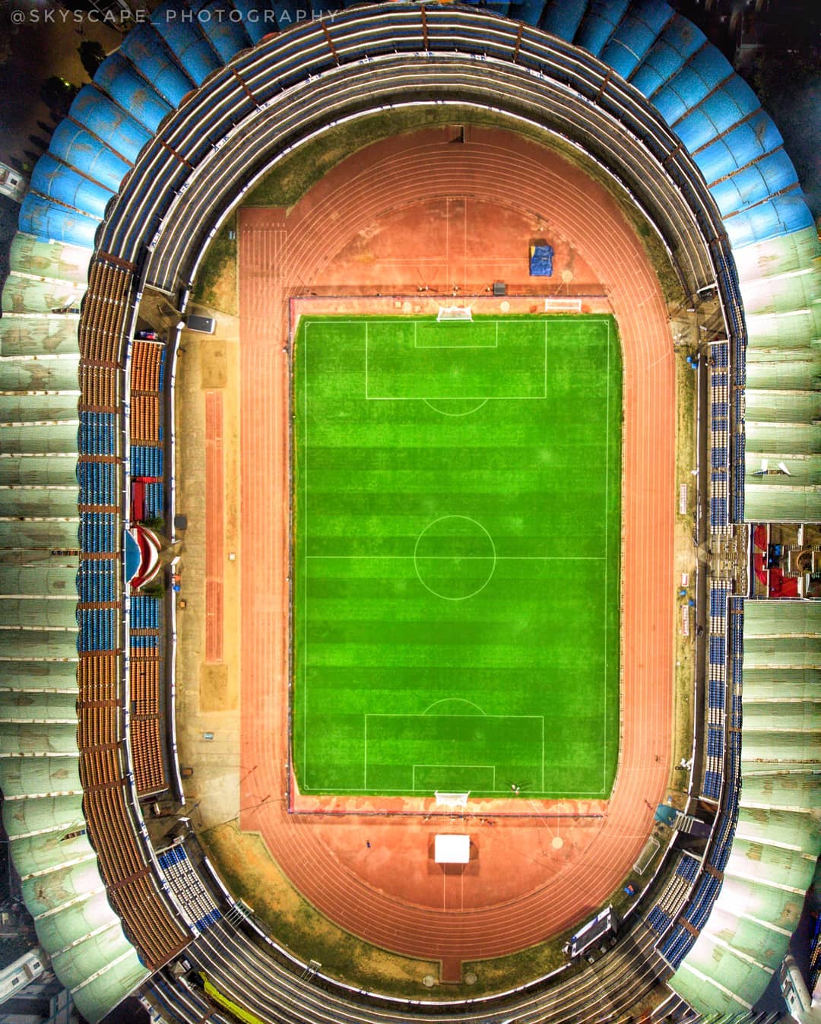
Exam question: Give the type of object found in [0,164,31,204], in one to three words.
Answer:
house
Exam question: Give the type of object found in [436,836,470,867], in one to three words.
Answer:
tent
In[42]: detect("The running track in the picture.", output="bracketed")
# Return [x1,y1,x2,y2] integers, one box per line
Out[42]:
[239,126,675,982]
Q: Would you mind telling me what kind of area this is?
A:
sports ground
